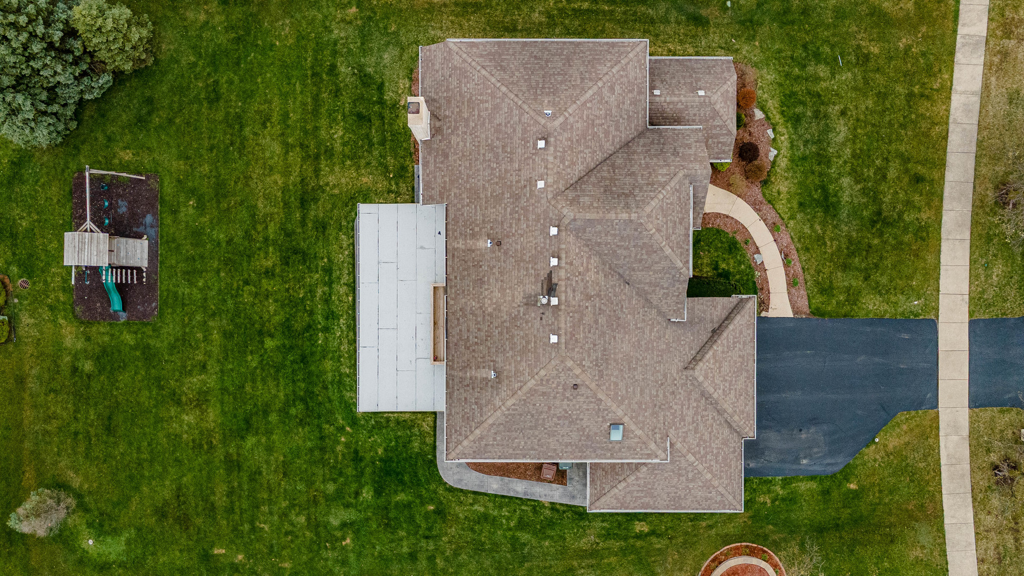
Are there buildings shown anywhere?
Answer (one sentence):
Yes, a building appears in the view.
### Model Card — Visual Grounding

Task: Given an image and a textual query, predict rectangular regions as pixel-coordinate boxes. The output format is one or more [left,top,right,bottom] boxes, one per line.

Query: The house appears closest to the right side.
[407,37,759,514]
